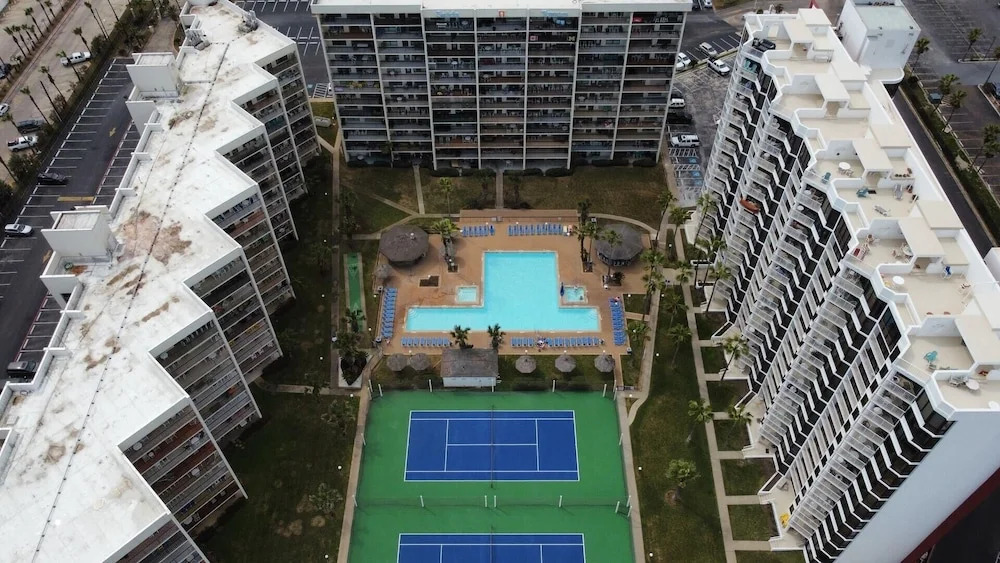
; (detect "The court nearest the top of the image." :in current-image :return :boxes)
[344,252,367,334]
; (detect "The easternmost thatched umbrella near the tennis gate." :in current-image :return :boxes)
[593,351,616,372]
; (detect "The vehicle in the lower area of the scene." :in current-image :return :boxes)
[1,360,39,378]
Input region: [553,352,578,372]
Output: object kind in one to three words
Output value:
umbrella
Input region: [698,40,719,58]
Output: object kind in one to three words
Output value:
car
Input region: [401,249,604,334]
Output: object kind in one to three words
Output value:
swimming pool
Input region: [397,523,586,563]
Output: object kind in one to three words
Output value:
tennis court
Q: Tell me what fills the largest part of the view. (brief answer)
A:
buildings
